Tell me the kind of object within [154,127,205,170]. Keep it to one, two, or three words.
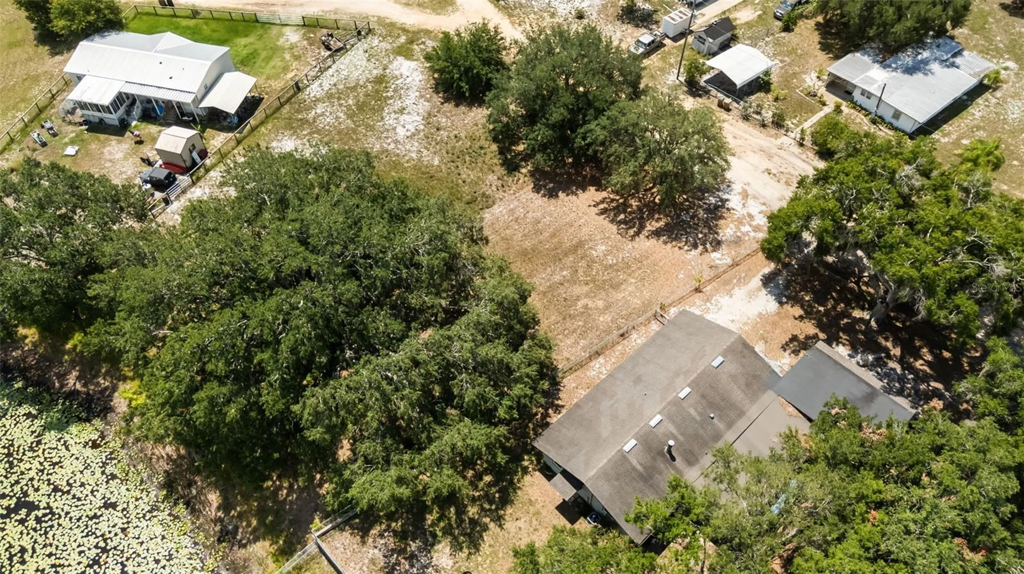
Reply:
shed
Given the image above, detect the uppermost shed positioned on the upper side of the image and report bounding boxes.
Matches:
[692,16,735,55]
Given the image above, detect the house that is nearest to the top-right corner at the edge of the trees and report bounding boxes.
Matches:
[821,35,994,136]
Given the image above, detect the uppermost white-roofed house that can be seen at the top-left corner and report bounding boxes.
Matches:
[63,29,234,124]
